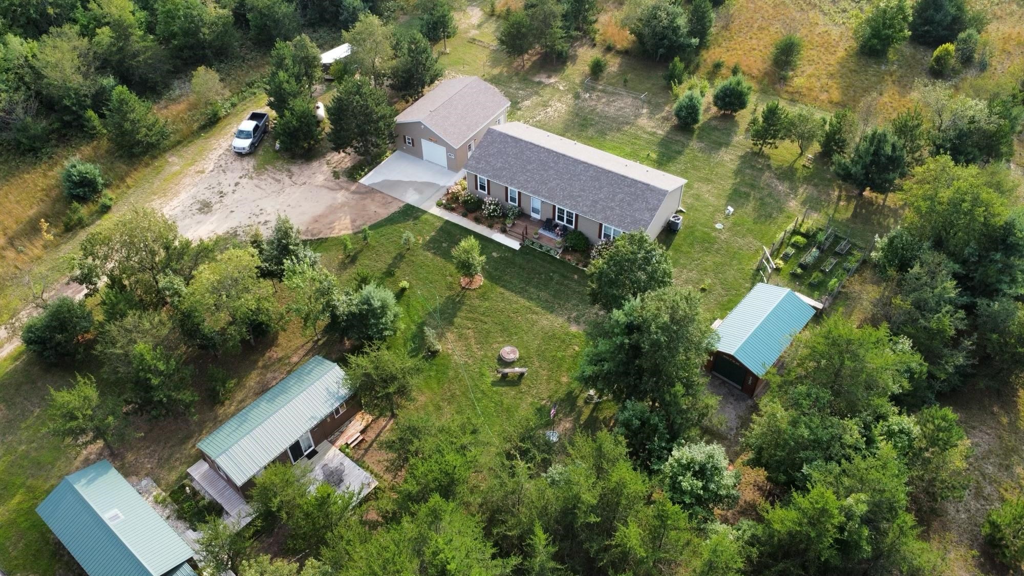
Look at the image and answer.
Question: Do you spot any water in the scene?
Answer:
No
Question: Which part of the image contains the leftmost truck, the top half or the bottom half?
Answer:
top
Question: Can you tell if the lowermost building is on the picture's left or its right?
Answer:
left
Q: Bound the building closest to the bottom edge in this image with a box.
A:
[34,458,207,576]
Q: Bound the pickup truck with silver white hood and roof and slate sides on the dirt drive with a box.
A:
[228,110,272,152]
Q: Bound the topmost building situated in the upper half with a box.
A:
[391,77,510,172]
